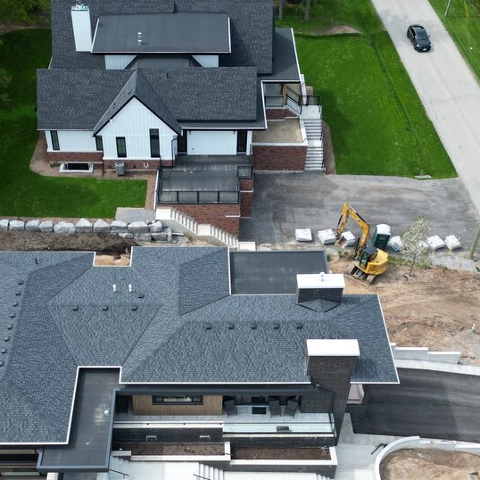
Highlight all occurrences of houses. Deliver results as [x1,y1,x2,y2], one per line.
[0,247,403,480]
[36,0,302,170]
